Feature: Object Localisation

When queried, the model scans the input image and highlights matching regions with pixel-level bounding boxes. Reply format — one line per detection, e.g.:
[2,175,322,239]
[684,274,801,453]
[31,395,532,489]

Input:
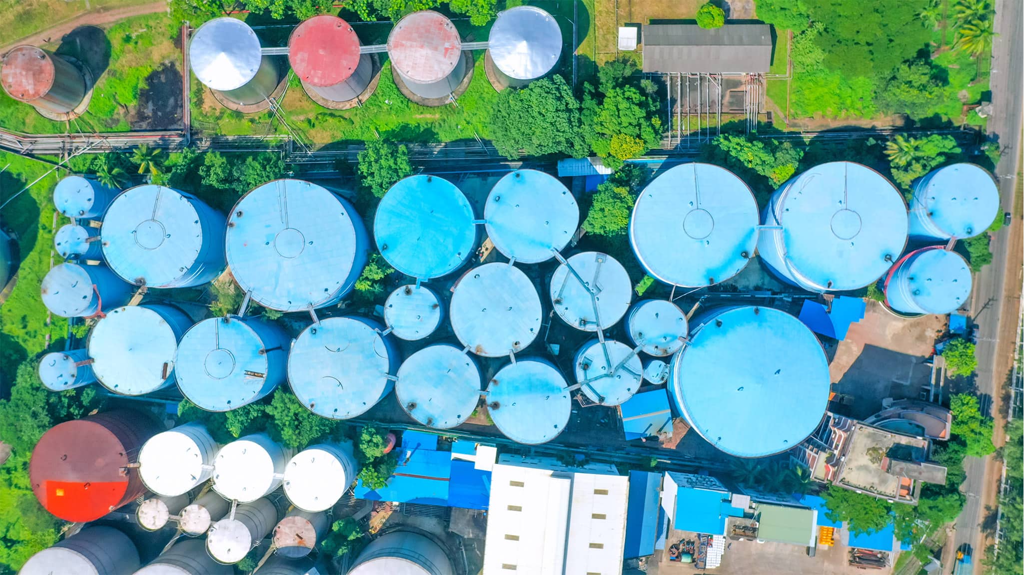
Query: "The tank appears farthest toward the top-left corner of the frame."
[0,45,95,121]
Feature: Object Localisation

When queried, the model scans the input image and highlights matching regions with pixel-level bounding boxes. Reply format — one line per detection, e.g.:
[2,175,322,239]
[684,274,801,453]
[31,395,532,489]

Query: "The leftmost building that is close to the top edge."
[618,27,637,54]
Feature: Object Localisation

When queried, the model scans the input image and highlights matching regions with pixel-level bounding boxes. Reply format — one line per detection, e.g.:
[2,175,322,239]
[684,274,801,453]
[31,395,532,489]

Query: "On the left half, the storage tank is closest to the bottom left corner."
[16,522,140,575]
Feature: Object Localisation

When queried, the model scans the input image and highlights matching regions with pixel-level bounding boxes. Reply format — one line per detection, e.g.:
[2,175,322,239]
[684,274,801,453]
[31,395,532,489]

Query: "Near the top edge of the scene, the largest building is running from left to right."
[640,24,773,79]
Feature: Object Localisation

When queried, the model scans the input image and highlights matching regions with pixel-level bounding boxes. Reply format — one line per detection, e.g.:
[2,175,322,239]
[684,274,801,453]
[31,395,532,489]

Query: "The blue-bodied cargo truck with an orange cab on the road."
[959,553,981,575]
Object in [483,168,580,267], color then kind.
blue storage tank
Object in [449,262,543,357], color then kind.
blue storage tank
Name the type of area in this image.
industrial area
